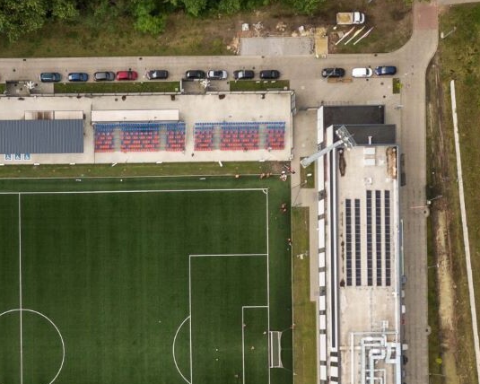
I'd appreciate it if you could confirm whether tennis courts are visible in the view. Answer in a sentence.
No, there isn't any tennis court down there.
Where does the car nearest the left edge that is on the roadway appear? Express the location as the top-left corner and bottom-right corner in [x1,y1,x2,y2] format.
[40,70,62,83]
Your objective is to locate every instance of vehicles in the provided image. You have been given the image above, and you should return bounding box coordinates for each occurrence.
[231,68,255,80]
[117,69,137,81]
[40,70,62,83]
[373,64,397,76]
[349,66,373,78]
[334,12,363,25]
[93,72,114,81]
[146,68,169,80]
[183,68,206,80]
[68,72,88,82]
[257,68,280,80]
[206,68,229,80]
[320,66,345,78]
